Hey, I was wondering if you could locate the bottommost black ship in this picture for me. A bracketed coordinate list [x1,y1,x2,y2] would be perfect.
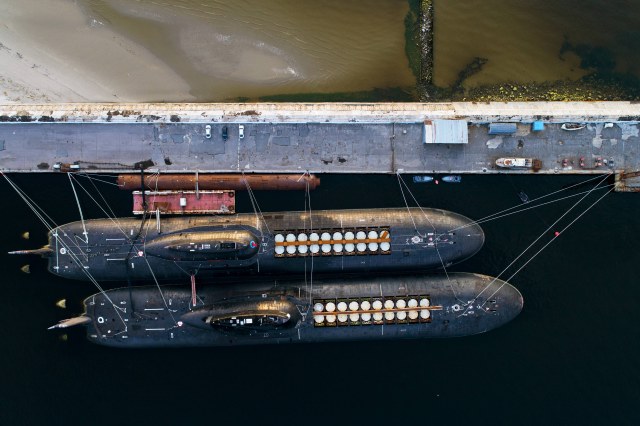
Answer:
[45,272,526,347]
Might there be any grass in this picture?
No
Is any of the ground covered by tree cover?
No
